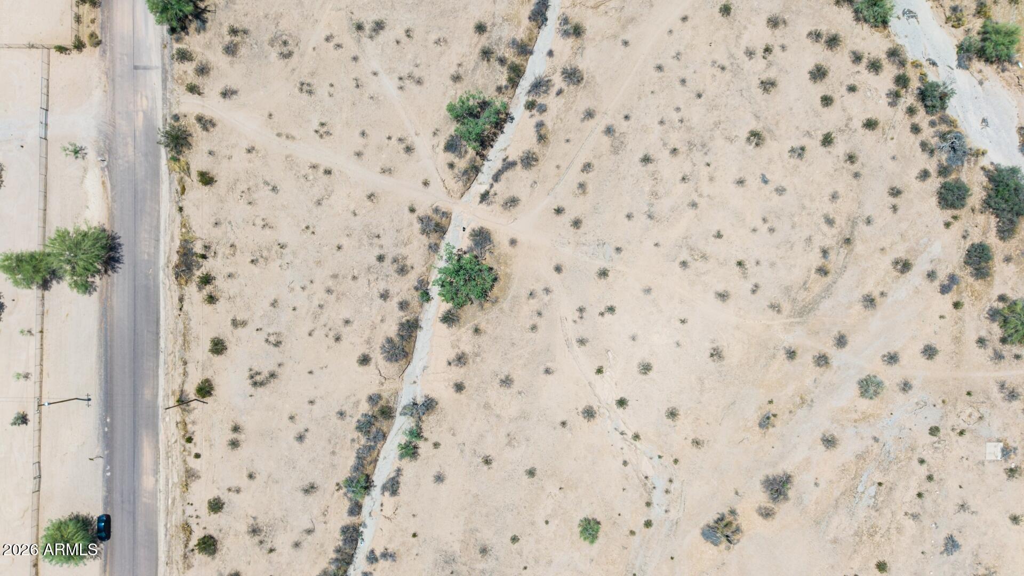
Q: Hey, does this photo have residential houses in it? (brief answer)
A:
No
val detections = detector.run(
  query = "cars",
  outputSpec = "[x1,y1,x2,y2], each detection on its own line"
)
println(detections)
[96,513,112,541]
